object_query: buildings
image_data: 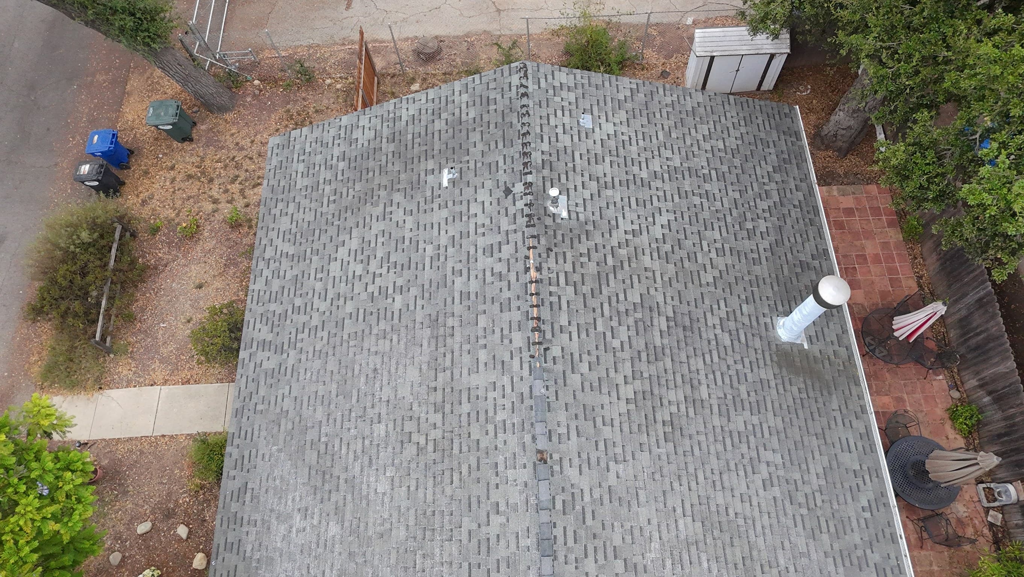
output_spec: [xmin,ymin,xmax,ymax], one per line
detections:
[685,18,793,89]
[210,61,913,577]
